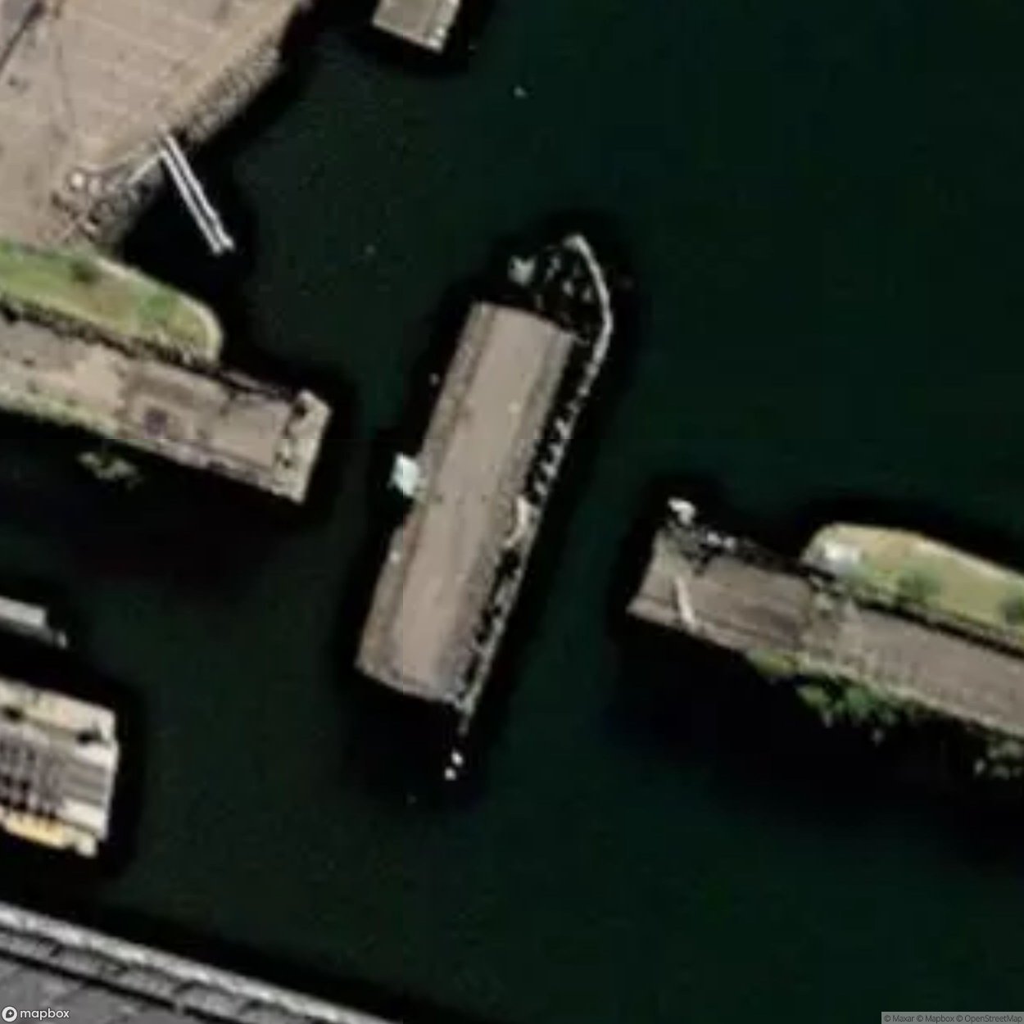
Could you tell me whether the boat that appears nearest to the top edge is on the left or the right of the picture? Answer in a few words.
left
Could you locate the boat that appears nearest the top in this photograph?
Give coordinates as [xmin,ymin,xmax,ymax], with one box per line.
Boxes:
[0,594,61,649]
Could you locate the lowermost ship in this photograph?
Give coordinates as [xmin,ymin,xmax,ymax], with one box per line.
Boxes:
[0,679,122,852]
